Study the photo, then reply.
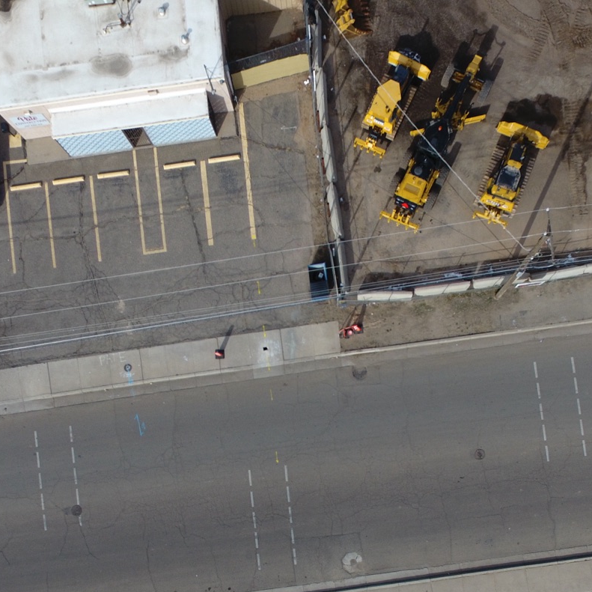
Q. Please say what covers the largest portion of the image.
paved ground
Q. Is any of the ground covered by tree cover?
No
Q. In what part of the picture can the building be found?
top left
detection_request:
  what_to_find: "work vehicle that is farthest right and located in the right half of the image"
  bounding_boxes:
[476,122,555,226]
